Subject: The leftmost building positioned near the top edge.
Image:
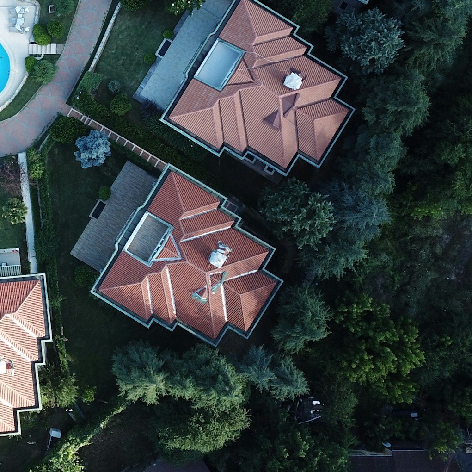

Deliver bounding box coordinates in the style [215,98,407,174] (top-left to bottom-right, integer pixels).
[159,0,352,174]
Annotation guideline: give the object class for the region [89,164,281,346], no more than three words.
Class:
house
